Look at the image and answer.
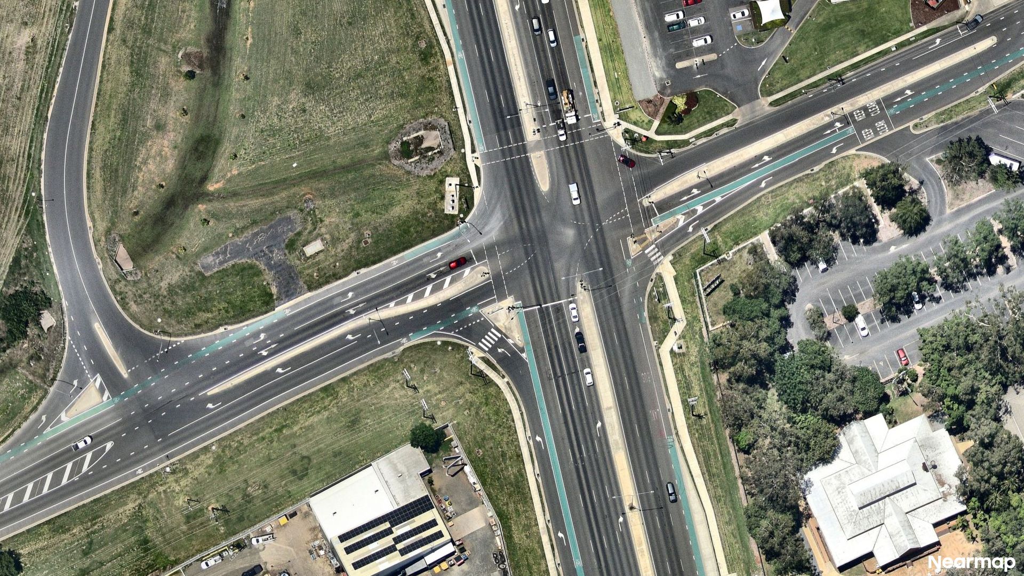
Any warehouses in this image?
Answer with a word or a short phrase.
No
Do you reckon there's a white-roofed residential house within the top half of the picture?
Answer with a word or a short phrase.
No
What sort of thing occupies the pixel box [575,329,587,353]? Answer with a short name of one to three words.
vehicle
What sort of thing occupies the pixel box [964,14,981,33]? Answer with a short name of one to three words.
car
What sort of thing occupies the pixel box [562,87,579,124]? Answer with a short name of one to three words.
vehicle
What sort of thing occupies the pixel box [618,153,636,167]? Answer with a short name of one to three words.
car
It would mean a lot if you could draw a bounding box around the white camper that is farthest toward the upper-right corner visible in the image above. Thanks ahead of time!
[988,152,1016,172]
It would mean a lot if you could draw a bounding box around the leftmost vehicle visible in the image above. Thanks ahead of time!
[70,435,92,450]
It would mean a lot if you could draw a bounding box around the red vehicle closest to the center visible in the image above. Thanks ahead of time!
[448,256,467,269]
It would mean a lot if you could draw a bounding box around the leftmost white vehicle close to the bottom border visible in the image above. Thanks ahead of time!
[200,553,226,568]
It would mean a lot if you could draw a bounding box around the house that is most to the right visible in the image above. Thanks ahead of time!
[802,414,967,568]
